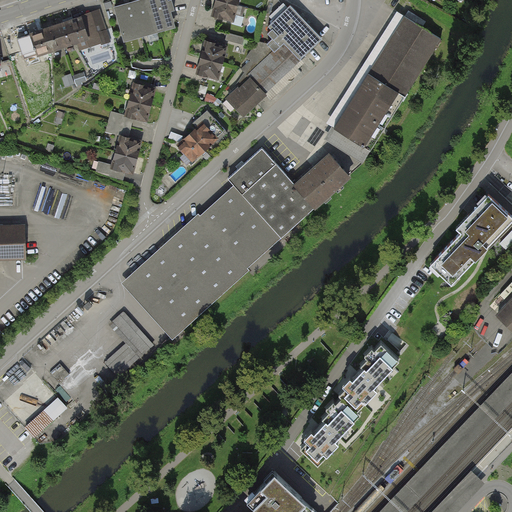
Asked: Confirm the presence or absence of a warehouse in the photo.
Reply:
Yes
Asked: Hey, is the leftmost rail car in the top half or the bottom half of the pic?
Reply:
bottom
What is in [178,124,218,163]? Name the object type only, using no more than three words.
house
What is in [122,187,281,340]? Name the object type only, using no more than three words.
warehouse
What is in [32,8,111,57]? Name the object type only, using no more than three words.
building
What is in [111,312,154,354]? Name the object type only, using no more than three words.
shed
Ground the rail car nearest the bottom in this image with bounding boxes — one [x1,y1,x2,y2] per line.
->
[354,484,386,512]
